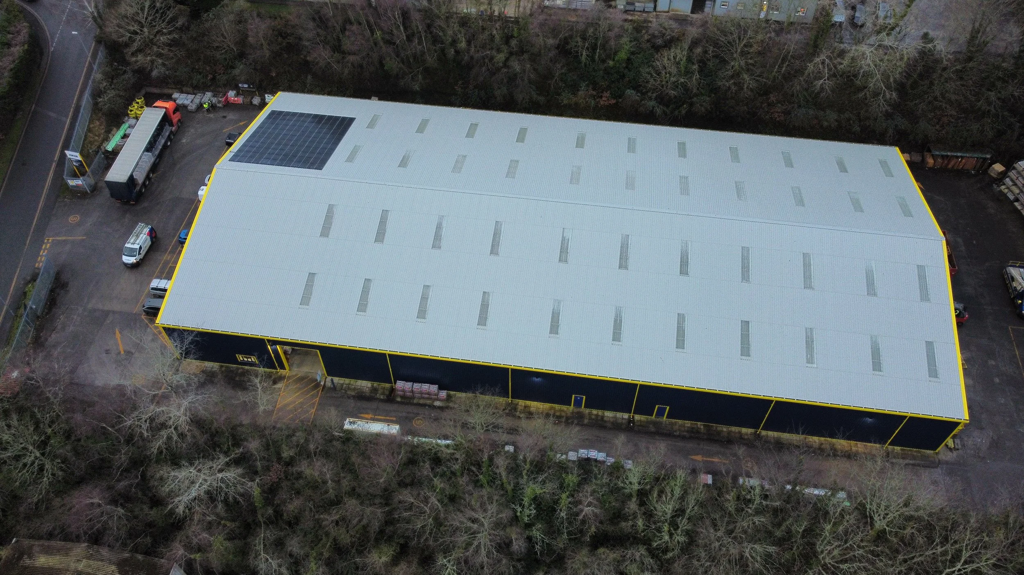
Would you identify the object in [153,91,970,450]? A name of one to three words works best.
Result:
warehouse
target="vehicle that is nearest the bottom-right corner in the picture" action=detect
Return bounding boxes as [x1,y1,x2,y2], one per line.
[953,301,967,322]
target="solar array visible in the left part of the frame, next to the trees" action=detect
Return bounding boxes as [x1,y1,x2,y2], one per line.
[229,109,355,169]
